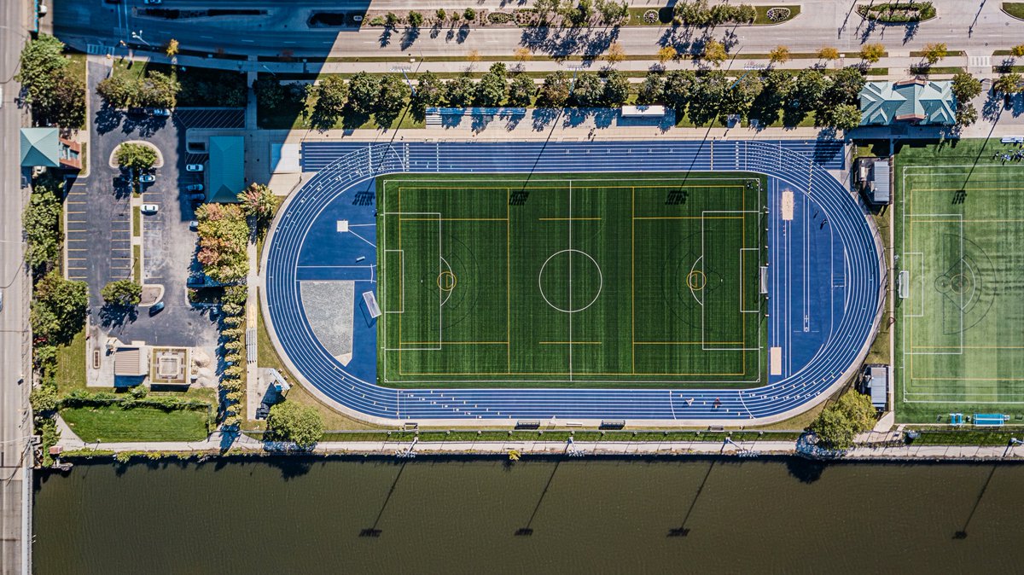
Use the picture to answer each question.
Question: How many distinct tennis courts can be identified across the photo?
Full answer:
No tennis courts are visible.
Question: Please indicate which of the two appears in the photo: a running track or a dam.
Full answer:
Visible in the photo is a running track.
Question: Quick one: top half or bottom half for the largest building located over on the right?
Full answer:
The largest building located over on the right is in the top half of the image.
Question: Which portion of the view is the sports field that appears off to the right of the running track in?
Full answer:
The sports field that appears off to the right of the running track is in the right part of the image.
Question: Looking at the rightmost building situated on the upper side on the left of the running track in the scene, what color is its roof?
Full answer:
The roof over the rightmost building situated on the upper side on the left of the running track appears blue.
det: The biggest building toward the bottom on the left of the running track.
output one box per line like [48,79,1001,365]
[151,345,197,385]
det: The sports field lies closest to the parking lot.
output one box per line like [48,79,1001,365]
[376,172,768,389]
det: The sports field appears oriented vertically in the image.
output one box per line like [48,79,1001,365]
[894,138,1024,424]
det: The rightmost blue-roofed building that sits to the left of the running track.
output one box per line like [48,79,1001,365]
[209,136,246,202]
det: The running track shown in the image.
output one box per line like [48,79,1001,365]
[266,140,881,421]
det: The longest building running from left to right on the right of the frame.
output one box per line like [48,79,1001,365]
[856,78,959,125]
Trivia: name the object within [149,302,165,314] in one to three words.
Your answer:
vehicle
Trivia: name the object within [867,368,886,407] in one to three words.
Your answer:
shed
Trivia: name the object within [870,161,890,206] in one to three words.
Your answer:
shed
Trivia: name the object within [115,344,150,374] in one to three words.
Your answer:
building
